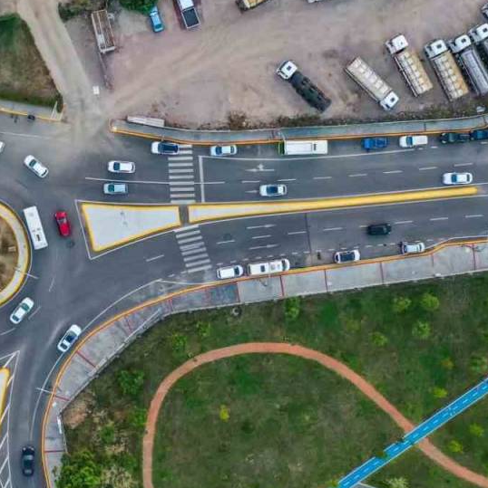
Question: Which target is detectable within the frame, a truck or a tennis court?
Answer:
truck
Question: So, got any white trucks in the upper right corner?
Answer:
Yes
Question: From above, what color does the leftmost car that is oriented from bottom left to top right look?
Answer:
white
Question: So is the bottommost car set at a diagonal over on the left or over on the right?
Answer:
left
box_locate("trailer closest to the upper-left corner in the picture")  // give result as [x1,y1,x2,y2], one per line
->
[91,9,117,72]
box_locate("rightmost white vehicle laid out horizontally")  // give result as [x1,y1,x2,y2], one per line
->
[440,171,472,186]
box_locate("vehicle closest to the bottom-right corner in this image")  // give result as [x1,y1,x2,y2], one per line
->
[397,240,423,255]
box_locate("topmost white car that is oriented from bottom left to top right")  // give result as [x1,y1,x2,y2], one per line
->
[9,297,35,325]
